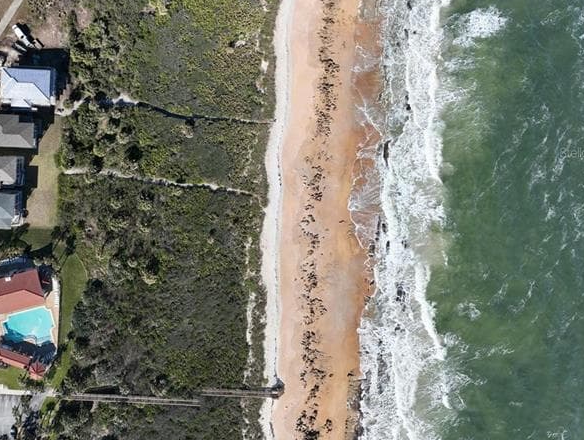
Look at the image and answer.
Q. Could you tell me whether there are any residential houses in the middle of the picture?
No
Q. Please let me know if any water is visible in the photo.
Yes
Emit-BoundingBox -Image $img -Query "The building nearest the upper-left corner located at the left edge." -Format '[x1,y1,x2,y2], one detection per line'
[1,68,56,107]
